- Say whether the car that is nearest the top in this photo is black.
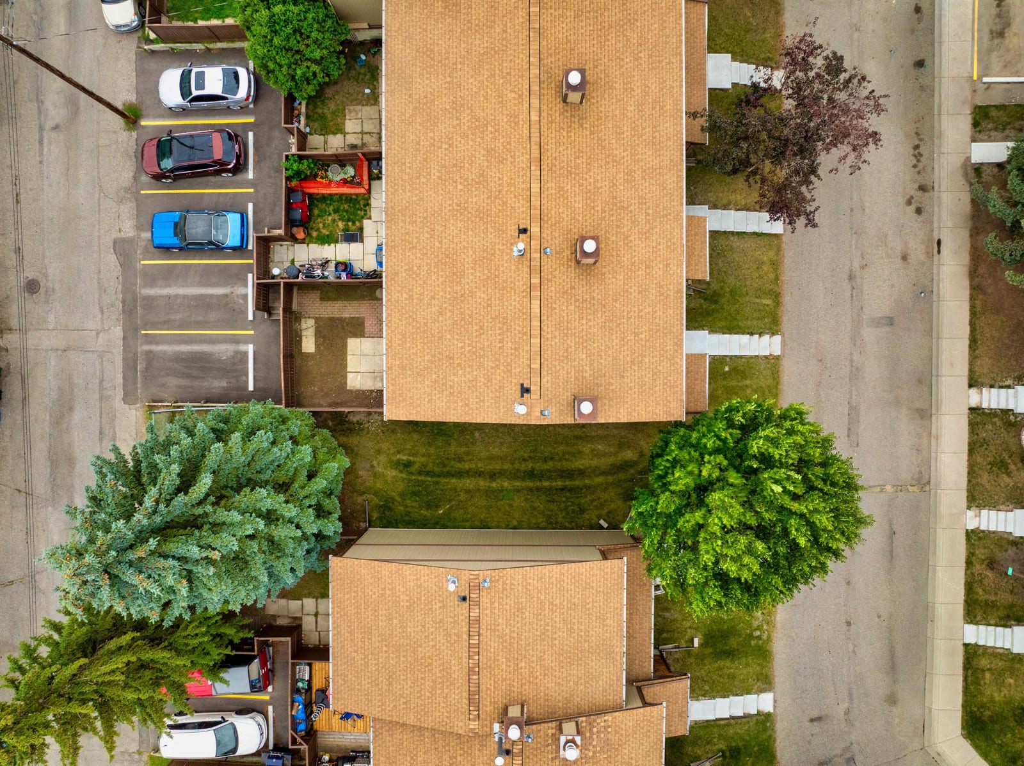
No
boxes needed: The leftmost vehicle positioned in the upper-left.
[100,0,147,36]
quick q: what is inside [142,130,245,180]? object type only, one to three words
car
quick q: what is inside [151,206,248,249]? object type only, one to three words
car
